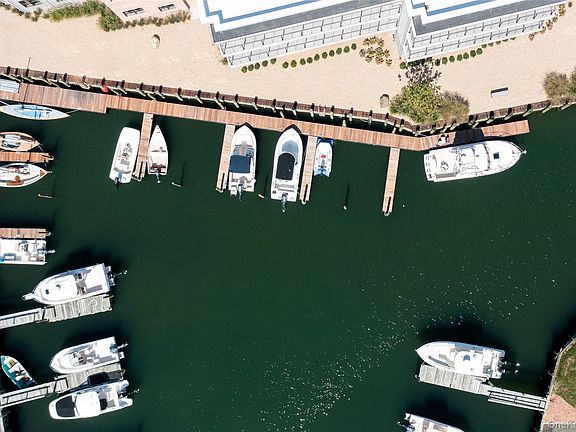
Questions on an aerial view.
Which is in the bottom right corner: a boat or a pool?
boat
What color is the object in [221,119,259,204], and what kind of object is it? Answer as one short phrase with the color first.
white boat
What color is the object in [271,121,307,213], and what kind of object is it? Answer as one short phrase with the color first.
white boat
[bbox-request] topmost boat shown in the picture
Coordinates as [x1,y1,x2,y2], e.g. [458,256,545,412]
[0,97,79,121]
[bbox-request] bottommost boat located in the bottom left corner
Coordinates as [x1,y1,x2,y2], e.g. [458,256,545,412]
[46,376,134,422]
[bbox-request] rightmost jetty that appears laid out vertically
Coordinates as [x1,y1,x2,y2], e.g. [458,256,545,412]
[383,148,400,216]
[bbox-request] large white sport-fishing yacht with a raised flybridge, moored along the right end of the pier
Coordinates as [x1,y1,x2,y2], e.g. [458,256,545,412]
[422,125,529,186]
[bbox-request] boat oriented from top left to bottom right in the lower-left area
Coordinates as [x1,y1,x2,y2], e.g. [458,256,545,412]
[2,356,40,390]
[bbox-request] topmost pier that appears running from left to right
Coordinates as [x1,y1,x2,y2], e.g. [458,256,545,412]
[0,75,529,151]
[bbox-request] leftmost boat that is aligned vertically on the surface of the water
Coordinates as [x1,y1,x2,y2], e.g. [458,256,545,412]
[110,127,141,191]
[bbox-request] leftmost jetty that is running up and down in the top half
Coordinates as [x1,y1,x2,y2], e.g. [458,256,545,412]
[129,115,154,183]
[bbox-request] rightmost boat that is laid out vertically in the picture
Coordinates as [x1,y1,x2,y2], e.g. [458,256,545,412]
[312,138,334,179]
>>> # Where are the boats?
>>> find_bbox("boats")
[312,138,334,179]
[46,376,134,422]
[2,356,40,390]
[0,233,55,265]
[221,119,259,204]
[271,121,307,213]
[416,341,517,384]
[0,161,54,188]
[0,97,79,121]
[110,127,141,191]
[47,334,128,379]
[23,262,119,309]
[0,132,51,158]
[144,119,168,183]
[422,125,529,186]
[395,411,462,432]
